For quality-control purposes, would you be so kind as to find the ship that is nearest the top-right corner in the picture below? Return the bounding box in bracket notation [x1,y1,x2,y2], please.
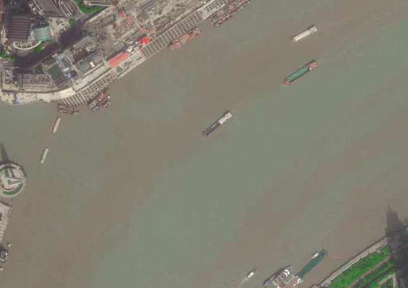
[292,26,319,39]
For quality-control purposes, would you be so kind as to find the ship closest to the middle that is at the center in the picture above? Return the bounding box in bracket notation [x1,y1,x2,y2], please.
[202,111,233,136]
